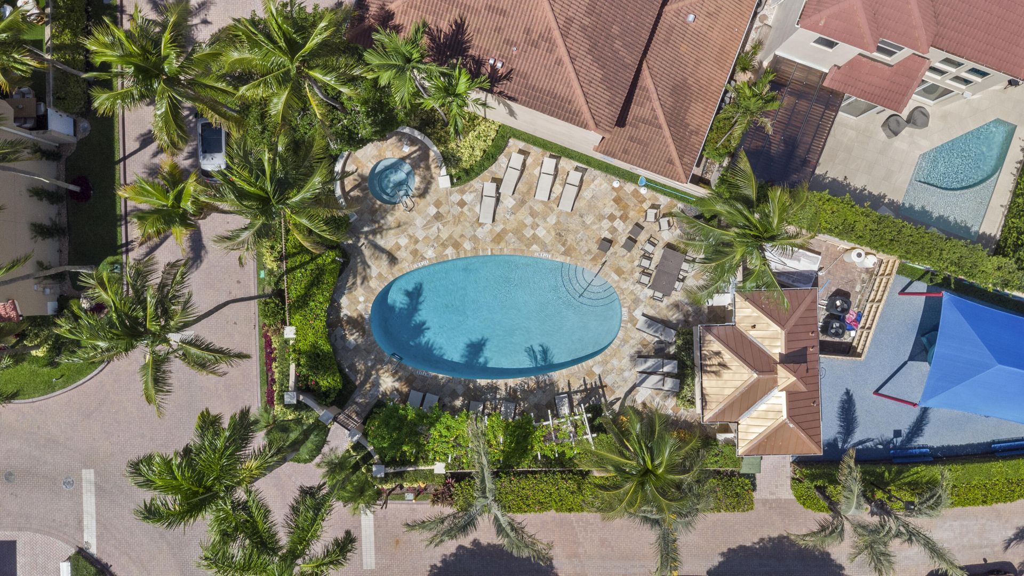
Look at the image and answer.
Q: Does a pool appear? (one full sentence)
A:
Yes, the photo shows a pool.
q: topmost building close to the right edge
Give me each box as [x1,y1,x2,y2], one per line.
[752,0,1024,114]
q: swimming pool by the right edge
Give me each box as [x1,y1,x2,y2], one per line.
[900,118,1017,240]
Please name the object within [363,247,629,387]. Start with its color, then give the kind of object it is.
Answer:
blue swimming pool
